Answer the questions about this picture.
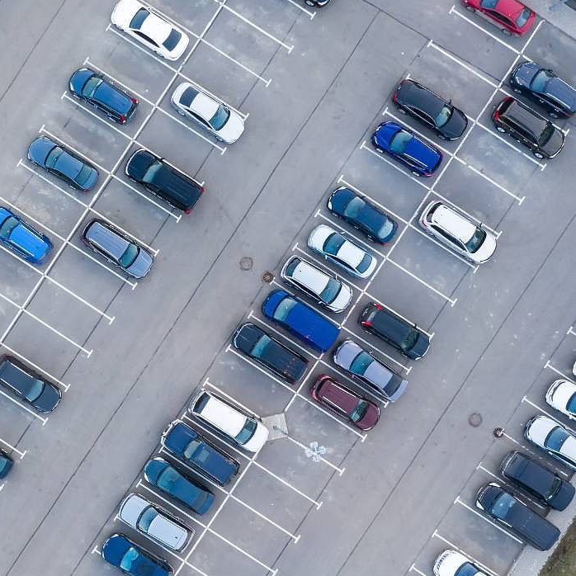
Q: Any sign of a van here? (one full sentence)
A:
Yes, a van is visible in the scene.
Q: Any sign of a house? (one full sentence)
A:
No, no house is visible in the view.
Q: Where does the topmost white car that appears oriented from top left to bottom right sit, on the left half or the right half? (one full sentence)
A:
The topmost white car that appears oriented from top left to bottom right sits on the left side.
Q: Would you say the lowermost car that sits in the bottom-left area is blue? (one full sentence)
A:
Yes, the lowermost car that sits in the bottom-left area is indeed blue.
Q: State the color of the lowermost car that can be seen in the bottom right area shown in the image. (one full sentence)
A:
The lowermost car that can be seen in the bottom right area is white.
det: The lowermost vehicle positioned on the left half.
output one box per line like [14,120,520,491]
[102,529,174,576]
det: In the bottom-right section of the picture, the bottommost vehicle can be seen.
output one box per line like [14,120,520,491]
[428,545,495,576]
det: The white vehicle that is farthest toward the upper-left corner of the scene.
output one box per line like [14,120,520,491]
[112,0,189,62]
